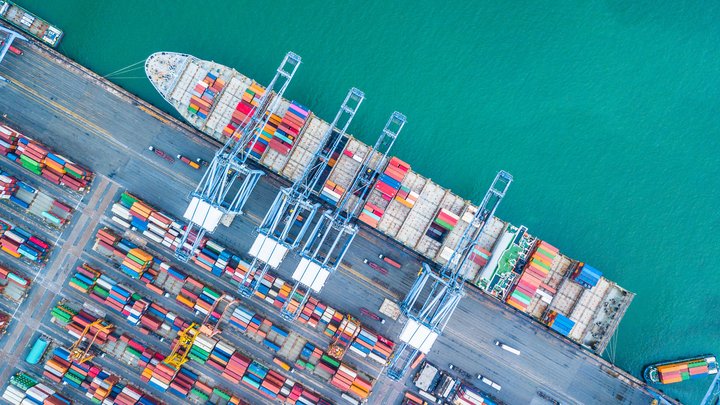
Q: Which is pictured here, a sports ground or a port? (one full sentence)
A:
It's a port.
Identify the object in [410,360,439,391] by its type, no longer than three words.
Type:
shed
